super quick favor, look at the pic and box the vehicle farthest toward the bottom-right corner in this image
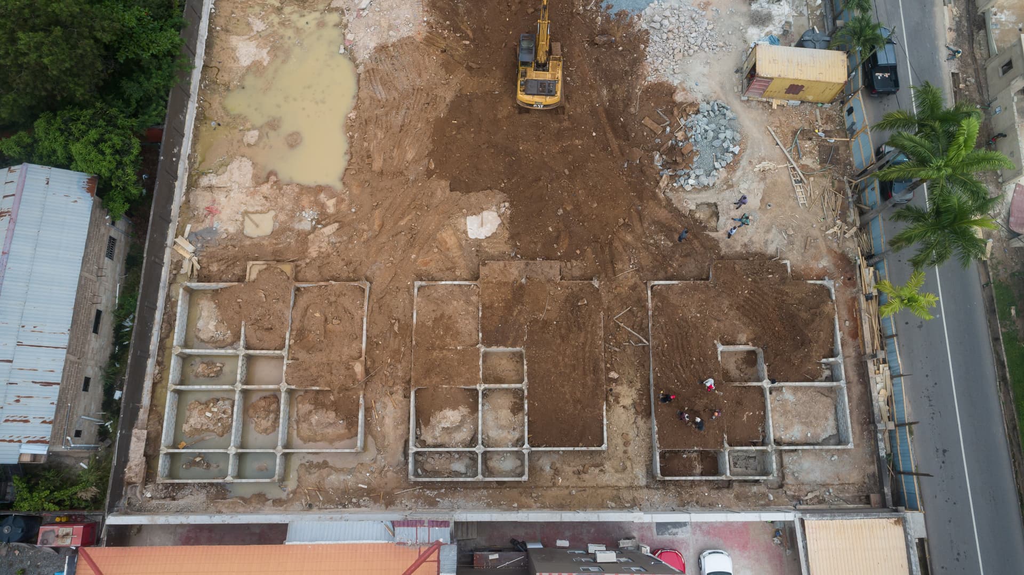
[697,546,736,575]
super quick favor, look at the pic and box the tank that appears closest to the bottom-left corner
[0,509,43,552]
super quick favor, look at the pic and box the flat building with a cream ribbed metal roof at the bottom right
[789,511,928,575]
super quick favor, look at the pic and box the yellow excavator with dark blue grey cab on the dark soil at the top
[515,0,563,115]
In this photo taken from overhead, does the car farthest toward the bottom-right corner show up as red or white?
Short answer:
white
